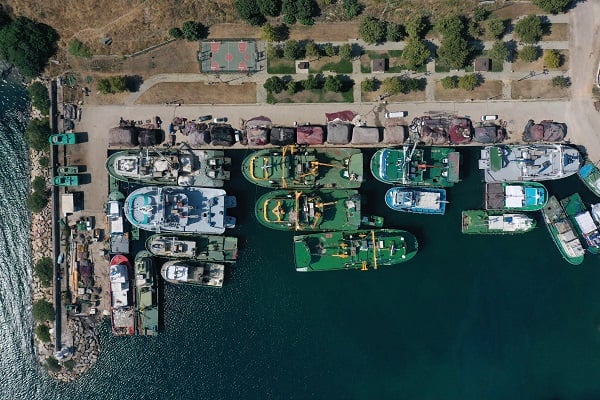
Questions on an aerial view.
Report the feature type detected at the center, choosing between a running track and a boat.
boat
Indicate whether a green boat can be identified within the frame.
Yes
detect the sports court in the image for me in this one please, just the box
[200,40,257,73]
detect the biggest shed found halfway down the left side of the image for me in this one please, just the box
[62,194,78,218]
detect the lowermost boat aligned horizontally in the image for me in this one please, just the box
[161,260,226,288]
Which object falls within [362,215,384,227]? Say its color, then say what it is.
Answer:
green boat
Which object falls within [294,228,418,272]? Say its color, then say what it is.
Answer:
green boat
